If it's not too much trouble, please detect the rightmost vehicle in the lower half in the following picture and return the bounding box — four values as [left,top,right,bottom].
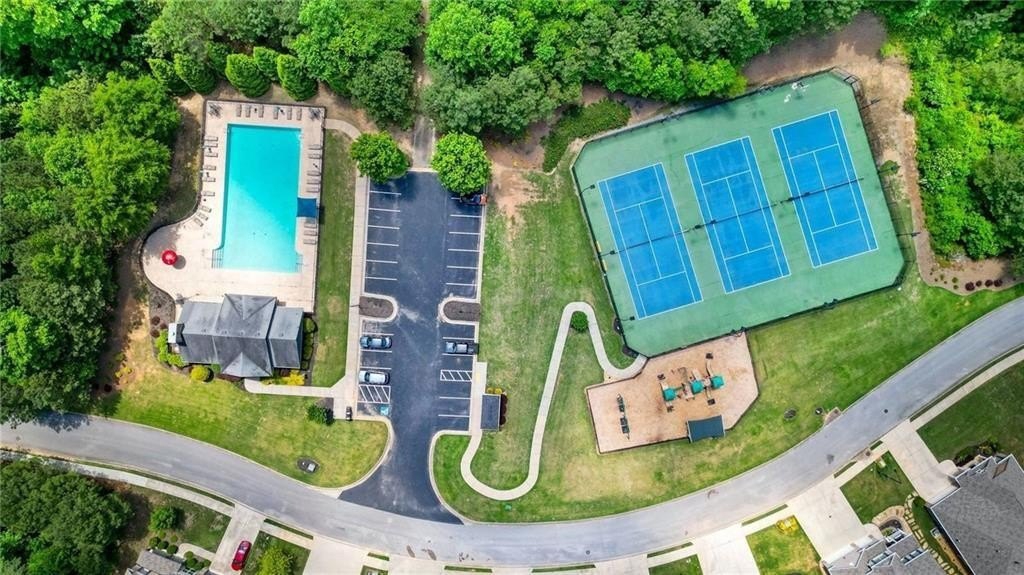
[446,341,478,356]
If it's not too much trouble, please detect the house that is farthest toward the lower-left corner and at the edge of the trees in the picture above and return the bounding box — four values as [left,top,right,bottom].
[119,546,190,575]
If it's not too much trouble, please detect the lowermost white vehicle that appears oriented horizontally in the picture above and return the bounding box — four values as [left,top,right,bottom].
[359,371,390,385]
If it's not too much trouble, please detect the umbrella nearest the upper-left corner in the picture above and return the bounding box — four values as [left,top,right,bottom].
[162,250,179,265]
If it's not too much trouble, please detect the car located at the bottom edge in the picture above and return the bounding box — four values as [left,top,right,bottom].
[231,540,252,571]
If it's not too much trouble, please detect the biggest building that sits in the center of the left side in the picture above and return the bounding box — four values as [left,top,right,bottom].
[166,295,309,377]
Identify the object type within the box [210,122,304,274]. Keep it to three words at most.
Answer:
swimming pool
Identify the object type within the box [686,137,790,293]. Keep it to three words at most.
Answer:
tennis court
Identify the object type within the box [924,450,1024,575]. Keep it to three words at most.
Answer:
house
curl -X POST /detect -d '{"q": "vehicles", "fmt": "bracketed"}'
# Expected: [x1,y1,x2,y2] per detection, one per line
[446,341,478,356]
[346,407,351,421]
[361,335,392,349]
[231,540,252,571]
[359,371,390,385]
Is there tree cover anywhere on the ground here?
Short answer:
Yes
